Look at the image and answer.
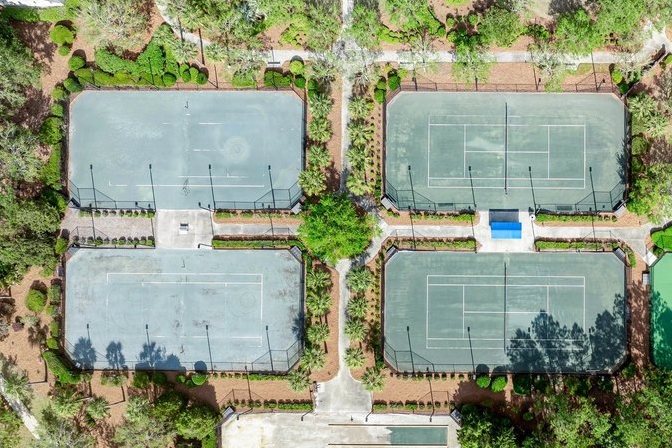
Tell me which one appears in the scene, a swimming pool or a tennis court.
tennis court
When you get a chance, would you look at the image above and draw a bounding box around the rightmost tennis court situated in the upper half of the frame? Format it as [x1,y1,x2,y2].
[385,92,627,212]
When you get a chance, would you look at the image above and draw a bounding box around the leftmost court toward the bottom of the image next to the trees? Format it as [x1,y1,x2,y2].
[64,249,302,372]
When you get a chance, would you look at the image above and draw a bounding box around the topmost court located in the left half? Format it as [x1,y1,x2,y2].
[68,91,302,210]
